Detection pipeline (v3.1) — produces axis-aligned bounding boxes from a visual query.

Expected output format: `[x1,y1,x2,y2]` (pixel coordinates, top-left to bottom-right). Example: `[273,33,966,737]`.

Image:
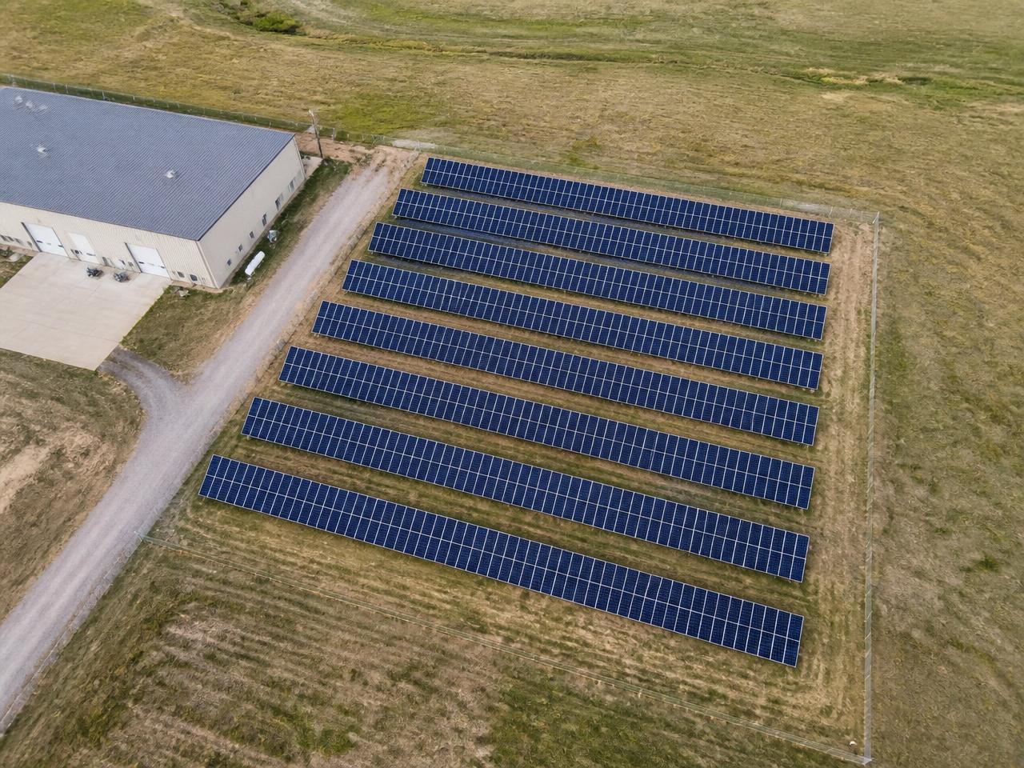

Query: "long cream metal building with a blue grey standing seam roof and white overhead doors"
[0,84,307,289]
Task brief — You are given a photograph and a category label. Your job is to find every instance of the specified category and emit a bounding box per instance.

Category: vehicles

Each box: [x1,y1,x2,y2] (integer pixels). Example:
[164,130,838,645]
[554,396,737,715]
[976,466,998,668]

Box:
[84,264,103,277]
[111,269,128,283]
